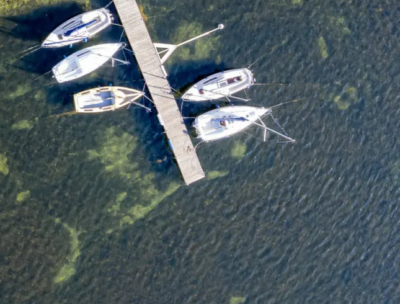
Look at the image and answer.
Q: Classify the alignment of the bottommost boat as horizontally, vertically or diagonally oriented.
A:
horizontally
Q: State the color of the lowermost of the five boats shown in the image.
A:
white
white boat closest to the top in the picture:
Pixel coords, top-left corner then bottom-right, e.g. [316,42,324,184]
[19,2,117,56]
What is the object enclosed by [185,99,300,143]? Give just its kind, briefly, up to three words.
boat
